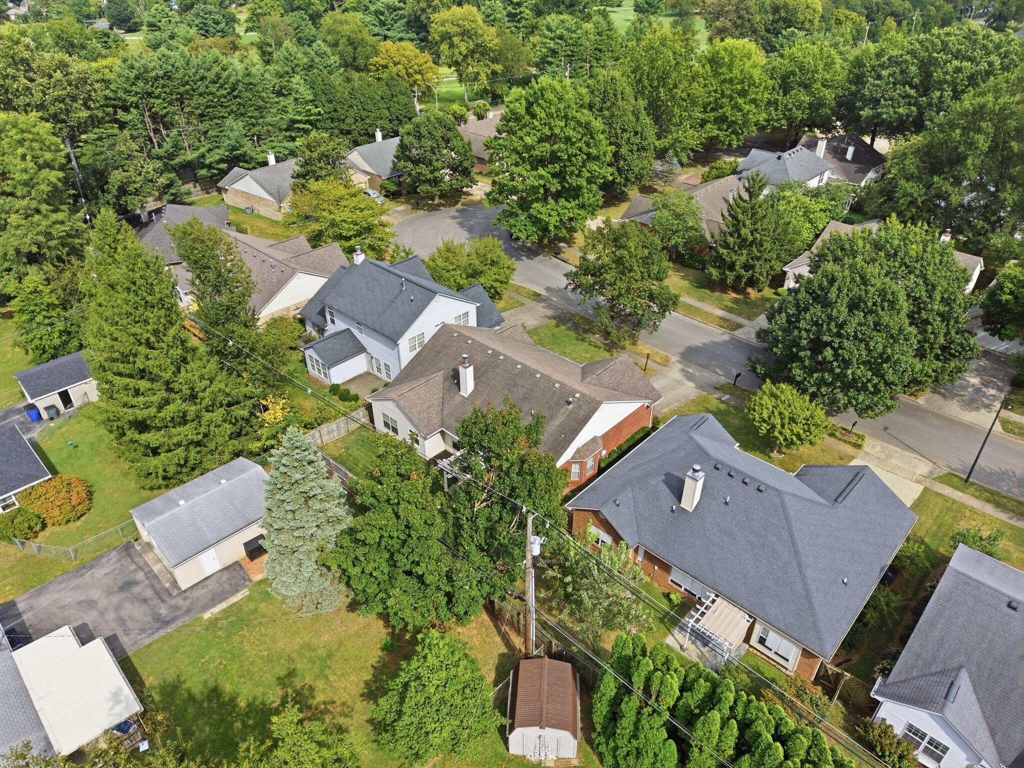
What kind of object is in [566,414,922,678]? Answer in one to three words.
house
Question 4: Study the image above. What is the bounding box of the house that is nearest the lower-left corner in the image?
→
[0,555,161,768]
